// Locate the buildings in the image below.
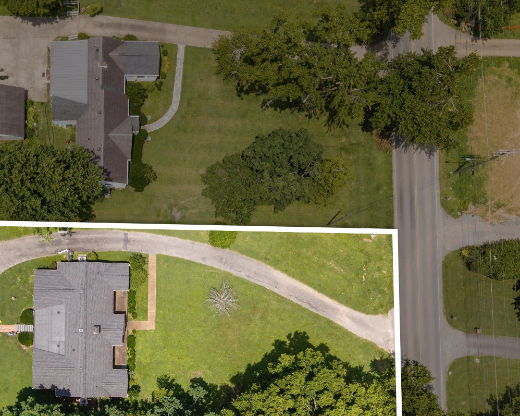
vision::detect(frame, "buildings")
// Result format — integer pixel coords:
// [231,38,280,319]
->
[32,262,133,398]
[50,31,160,187]
[0,83,25,142]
